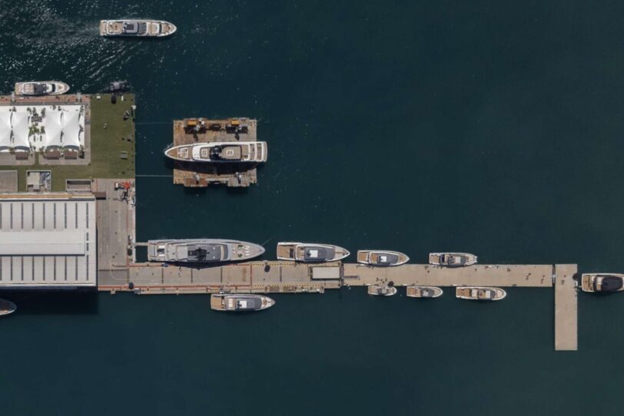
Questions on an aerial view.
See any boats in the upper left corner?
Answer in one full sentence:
Yes, a boat appears in the upper left corner.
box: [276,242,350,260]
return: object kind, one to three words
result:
boat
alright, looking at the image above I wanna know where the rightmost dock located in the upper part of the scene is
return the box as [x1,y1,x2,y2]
[173,117,256,187]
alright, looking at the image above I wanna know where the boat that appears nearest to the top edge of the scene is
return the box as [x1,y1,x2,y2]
[99,19,176,36]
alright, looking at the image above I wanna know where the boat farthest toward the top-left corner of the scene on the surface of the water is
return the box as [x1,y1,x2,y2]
[15,81,69,95]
